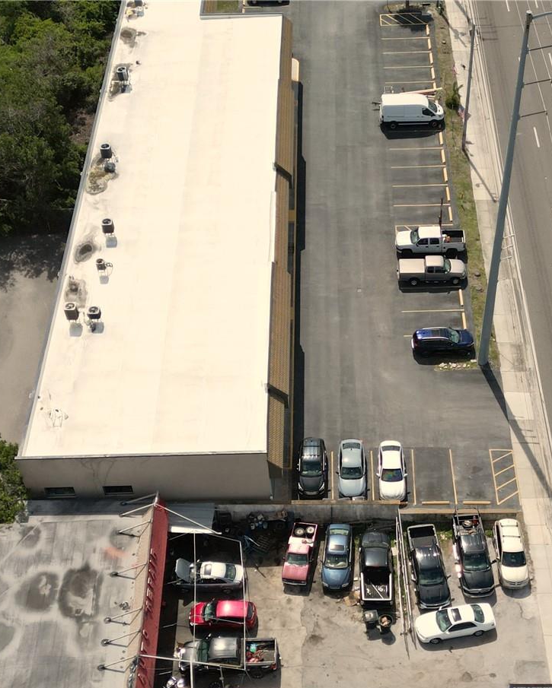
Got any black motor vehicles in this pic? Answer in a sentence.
Yes, this view includes a black motor vehicle.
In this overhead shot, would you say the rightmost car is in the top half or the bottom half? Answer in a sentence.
The bottom half of the photo is where the rightmost car is.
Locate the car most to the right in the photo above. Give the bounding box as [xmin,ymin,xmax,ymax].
[493,520,533,588]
